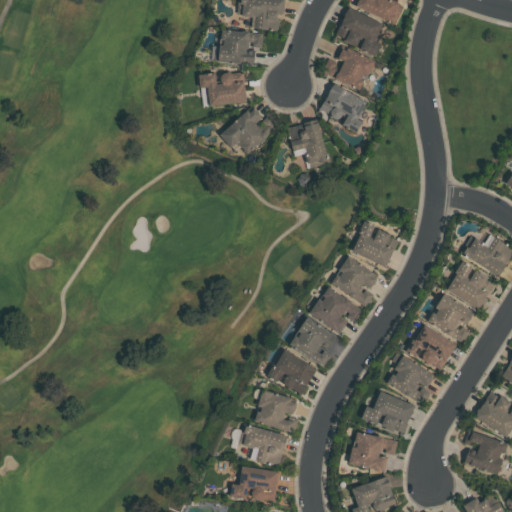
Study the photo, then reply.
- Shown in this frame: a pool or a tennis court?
pool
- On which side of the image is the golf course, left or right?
left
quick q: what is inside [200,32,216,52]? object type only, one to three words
swimming pool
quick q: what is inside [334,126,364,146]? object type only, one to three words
swimming pool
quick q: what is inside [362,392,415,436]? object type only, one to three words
house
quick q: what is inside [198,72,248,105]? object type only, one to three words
house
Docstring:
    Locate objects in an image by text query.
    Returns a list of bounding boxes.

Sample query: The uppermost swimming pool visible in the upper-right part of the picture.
[372,76,386,94]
